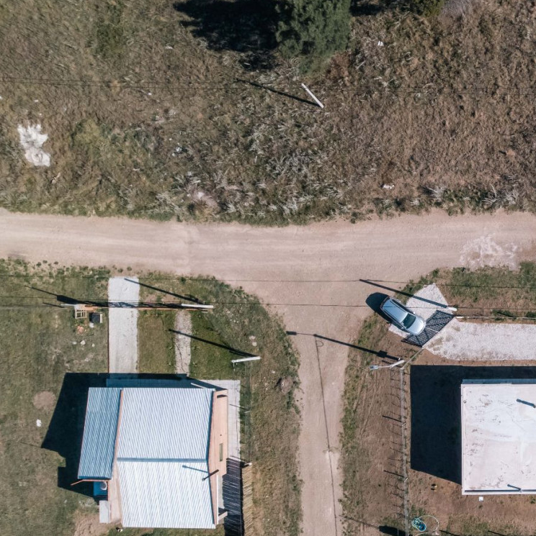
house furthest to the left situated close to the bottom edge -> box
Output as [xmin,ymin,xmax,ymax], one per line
[66,380,241,533]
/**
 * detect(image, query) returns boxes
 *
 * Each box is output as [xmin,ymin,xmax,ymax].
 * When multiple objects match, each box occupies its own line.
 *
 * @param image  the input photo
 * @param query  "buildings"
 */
[462,377,536,494]
[66,380,241,533]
